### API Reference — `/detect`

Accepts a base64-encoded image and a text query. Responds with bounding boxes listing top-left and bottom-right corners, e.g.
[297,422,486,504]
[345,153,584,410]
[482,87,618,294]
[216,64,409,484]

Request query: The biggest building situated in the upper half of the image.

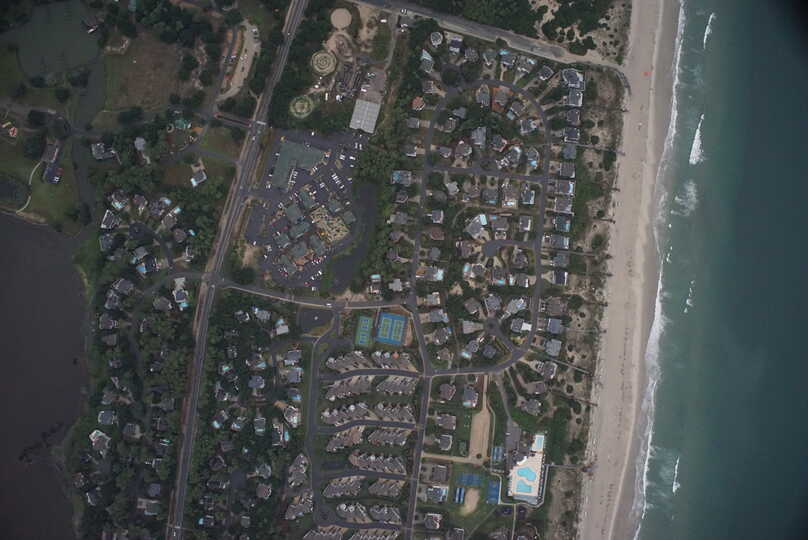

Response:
[273,141,325,191]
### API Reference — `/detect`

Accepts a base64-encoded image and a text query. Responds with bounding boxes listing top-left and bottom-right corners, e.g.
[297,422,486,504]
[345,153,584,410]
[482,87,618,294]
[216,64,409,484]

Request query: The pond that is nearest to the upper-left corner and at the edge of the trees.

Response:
[0,0,107,128]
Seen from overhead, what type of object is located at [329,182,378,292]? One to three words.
pond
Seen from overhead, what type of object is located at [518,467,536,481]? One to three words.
swimming pool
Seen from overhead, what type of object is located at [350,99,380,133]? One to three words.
barn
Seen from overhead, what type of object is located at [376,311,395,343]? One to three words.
tennis court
